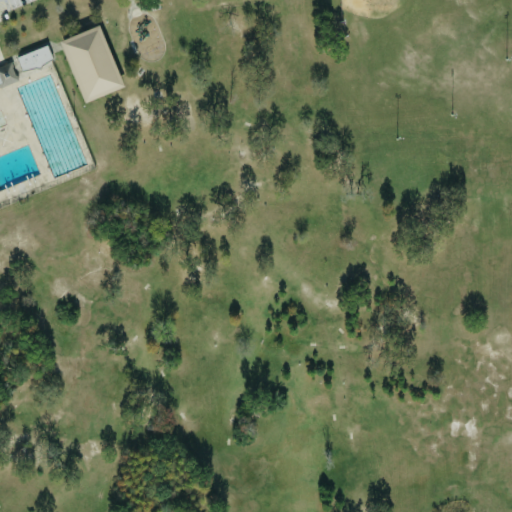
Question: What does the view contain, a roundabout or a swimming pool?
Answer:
swimming pool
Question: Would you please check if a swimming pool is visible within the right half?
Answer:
No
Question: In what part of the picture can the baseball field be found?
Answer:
top right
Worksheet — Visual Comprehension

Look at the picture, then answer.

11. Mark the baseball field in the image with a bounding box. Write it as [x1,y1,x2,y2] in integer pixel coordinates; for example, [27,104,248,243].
[341,0,512,138]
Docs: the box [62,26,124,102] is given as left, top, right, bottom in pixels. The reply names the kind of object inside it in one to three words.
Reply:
building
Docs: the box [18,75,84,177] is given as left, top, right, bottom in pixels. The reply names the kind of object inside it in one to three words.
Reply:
swimming pool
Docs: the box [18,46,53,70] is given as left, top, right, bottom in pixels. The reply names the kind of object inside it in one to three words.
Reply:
building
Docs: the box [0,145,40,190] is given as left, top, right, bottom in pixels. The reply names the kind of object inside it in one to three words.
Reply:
swimming pool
